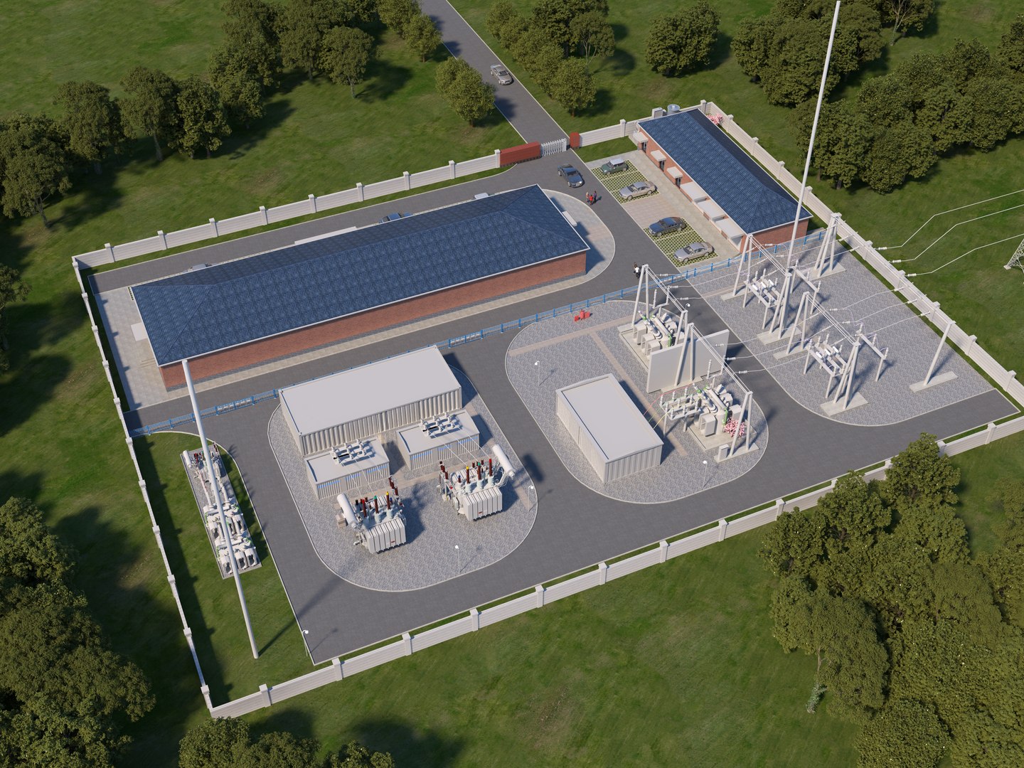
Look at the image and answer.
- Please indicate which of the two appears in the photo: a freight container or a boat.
freight container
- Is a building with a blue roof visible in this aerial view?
Yes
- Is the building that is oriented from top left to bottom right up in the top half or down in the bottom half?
top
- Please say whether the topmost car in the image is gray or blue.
gray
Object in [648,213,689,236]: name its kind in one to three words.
car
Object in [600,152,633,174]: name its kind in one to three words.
car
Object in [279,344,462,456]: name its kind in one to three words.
shipping container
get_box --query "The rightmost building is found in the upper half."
[629,108,813,256]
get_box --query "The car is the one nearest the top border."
[490,63,513,84]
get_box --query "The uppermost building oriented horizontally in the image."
[130,184,591,390]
